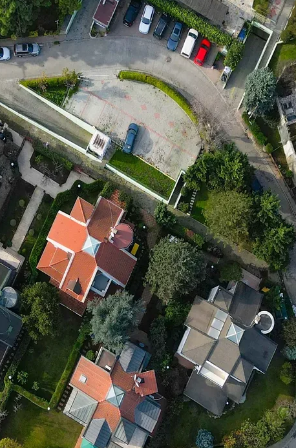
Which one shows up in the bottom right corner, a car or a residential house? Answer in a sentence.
It is a residential house that can be seen in the bottom right corner.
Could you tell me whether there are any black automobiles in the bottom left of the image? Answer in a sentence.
No, I see no black automobile in the bottom left of the image.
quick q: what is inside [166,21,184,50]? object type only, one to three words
car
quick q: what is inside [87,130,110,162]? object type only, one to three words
building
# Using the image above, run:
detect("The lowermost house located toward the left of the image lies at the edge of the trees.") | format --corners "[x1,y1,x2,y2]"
[64,342,165,448]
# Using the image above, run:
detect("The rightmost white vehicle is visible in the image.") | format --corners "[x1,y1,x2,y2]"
[179,29,198,60]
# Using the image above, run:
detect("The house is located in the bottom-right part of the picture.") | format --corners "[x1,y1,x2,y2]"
[176,282,279,415]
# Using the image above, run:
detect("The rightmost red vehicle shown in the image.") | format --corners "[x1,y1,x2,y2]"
[192,38,211,68]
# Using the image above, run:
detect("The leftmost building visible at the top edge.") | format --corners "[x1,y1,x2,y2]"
[92,0,118,32]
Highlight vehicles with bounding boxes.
[179,29,198,60]
[11,41,41,59]
[166,21,184,50]
[152,12,170,40]
[0,45,11,61]
[192,38,211,68]
[121,0,142,27]
[122,122,138,152]
[137,3,156,34]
